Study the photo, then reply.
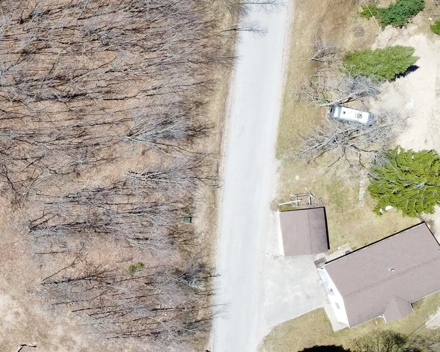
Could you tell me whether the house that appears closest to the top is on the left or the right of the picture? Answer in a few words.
right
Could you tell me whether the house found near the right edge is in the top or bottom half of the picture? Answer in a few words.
bottom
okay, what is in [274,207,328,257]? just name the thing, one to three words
house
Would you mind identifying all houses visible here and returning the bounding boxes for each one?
[274,207,328,257]
[318,223,440,329]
